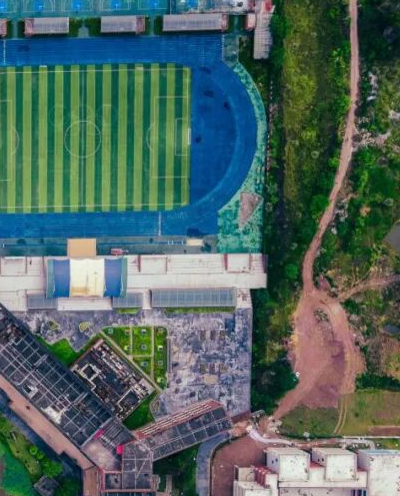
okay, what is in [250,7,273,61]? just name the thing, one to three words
building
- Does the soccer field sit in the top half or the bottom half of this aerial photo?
top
